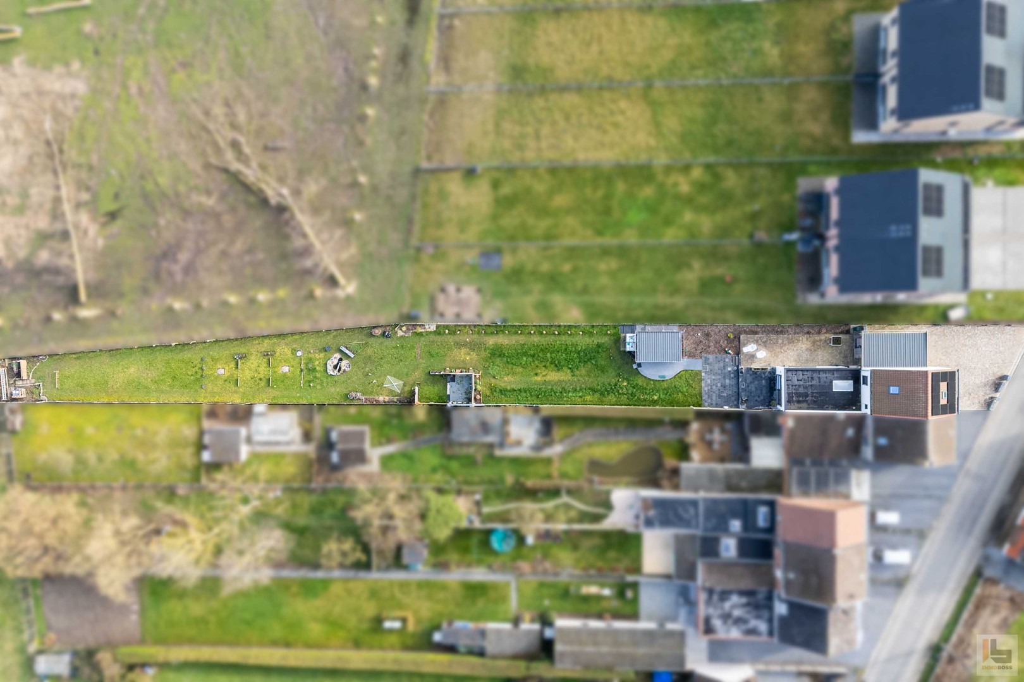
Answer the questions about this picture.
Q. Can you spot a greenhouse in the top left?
No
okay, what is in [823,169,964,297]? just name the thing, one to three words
house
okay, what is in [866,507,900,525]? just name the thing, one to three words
vehicle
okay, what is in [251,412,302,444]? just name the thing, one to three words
greenhouse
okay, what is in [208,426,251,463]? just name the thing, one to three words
shed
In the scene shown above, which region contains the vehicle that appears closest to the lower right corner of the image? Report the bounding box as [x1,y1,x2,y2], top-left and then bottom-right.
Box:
[867,544,911,563]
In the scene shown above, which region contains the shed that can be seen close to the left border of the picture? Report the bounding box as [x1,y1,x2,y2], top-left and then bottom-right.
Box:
[35,648,80,675]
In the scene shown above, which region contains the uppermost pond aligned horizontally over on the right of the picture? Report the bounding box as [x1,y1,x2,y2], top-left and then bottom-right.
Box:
[588,445,662,476]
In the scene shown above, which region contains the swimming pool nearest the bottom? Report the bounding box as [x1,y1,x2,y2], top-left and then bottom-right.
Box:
[489,528,515,553]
